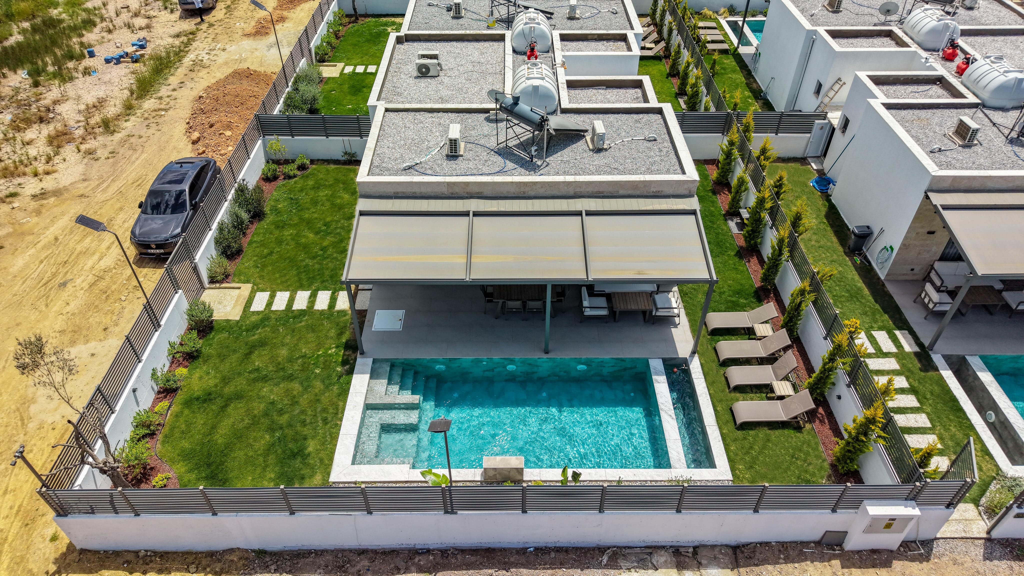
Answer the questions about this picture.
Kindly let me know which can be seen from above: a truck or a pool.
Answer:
pool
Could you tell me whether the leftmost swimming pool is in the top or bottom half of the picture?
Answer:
bottom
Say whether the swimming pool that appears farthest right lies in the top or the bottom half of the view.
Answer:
bottom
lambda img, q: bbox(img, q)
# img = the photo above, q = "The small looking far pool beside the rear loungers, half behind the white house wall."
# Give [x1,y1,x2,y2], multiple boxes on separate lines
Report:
[719,21,760,49]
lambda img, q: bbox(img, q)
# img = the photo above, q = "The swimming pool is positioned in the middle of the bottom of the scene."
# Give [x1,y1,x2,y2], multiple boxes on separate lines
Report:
[329,358,732,482]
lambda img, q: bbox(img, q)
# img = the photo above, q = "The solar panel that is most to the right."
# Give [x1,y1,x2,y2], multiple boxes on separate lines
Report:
[429,420,453,433]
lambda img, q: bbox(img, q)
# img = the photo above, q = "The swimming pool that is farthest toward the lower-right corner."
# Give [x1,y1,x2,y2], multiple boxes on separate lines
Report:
[932,355,1024,476]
